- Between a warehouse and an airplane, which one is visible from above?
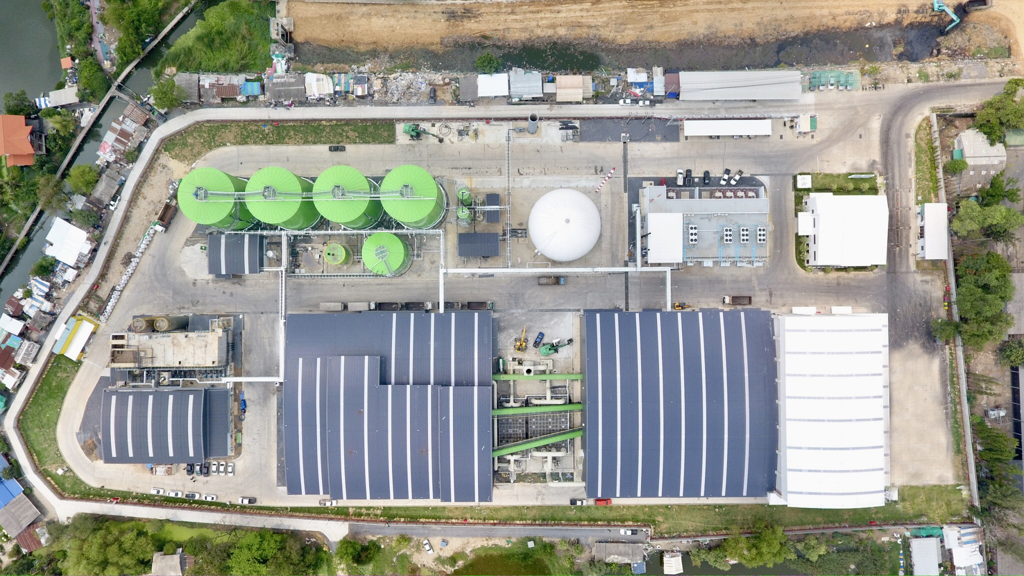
warehouse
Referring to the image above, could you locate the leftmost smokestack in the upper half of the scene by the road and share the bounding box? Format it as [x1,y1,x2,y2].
[526,111,540,139]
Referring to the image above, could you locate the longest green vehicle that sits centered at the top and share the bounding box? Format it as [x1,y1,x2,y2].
[405,126,442,142]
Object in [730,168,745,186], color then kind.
white vehicle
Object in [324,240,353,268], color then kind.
green storage tank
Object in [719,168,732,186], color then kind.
white vehicle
